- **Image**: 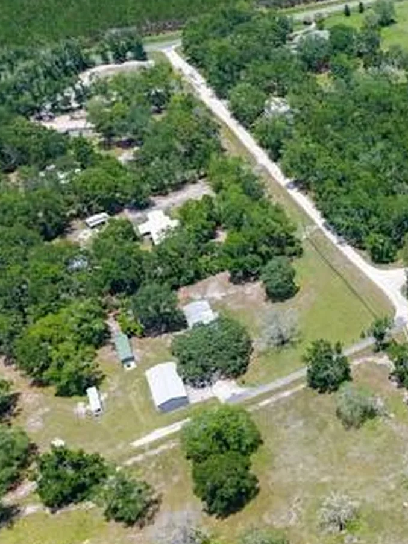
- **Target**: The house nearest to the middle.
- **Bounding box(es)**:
[175,294,220,330]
